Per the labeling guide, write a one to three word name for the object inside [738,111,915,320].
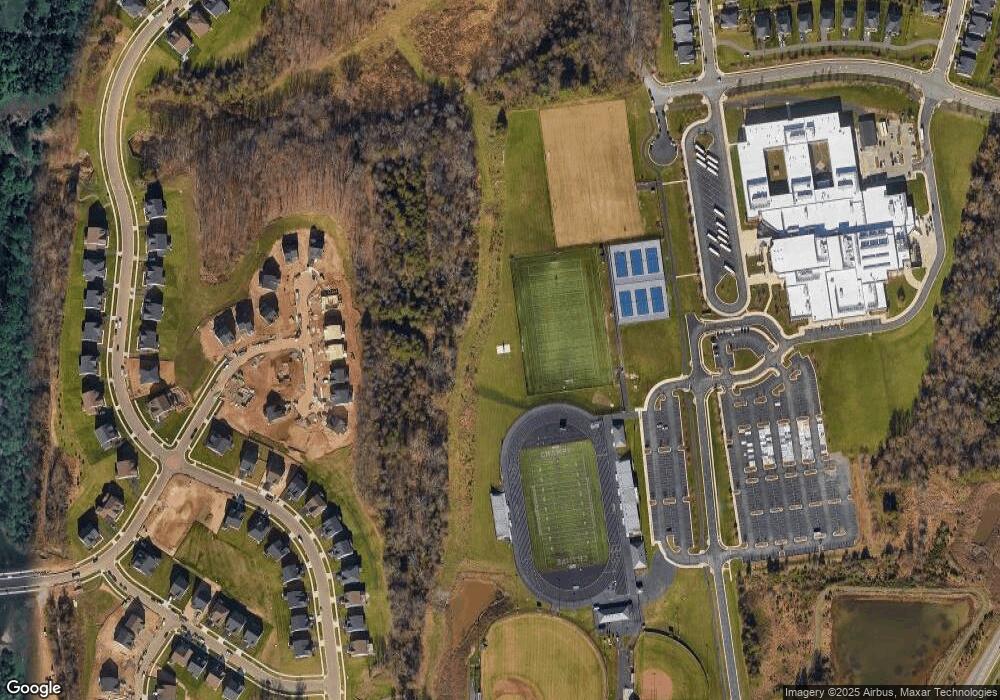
building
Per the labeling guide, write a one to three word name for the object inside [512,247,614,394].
soccer field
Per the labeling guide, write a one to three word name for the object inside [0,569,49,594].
bridge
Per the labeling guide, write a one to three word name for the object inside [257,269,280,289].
house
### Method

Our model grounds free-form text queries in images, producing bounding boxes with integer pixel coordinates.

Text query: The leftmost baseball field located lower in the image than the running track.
[476,613,611,700]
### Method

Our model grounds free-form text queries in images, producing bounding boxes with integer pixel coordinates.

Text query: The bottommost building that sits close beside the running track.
[596,603,631,624]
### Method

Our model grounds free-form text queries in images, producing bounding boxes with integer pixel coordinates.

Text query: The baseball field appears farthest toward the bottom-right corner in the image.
[634,630,708,700]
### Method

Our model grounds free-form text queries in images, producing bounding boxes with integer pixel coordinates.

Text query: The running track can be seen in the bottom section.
[505,404,627,609]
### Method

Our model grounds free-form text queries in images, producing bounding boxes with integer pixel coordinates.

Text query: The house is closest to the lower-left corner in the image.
[99,672,119,690]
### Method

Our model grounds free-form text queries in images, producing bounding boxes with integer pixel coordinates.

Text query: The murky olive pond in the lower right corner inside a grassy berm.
[831,597,969,700]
